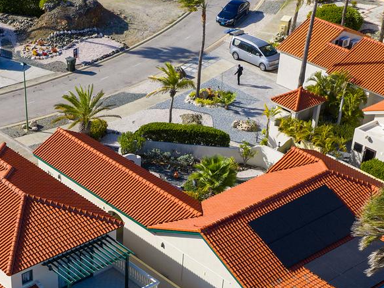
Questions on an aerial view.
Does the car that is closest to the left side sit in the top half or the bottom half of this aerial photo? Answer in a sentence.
The car that is closest to the left side sits in the top half of the picture.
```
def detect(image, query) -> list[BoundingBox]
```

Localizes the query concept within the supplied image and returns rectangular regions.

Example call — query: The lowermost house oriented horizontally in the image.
[31,128,384,288]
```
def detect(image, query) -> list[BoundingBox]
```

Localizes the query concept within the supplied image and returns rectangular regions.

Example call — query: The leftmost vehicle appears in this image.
[218,0,251,23]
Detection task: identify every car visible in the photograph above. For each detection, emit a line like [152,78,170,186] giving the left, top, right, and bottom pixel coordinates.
[218,0,251,23]
[225,28,282,71]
